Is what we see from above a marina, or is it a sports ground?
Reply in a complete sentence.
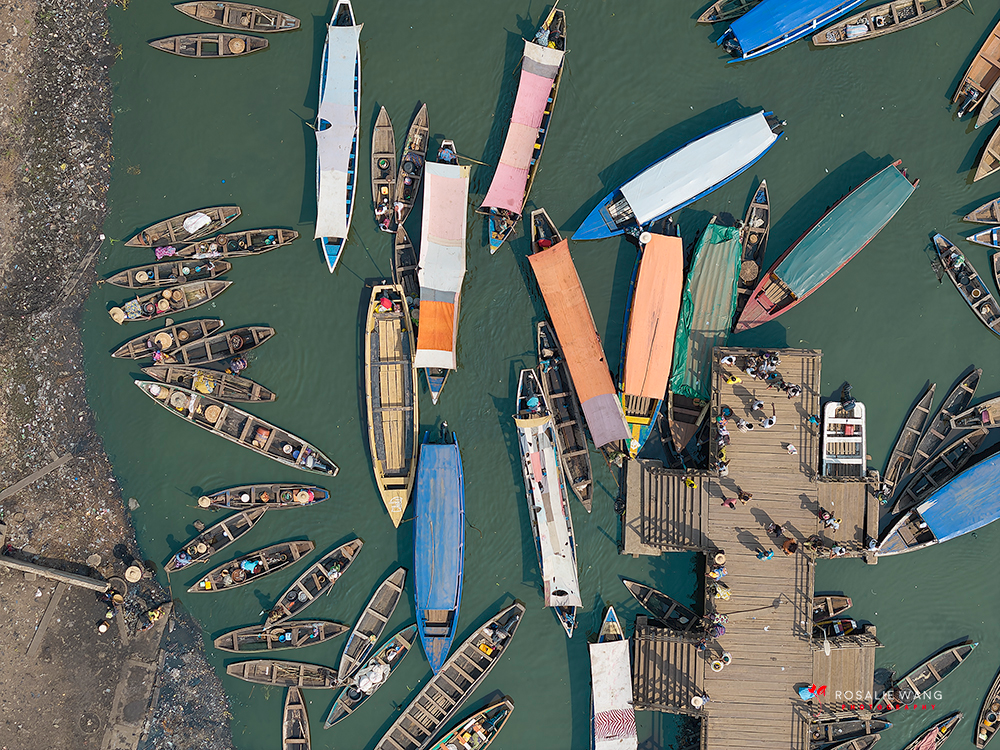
The area seen from above is a marina.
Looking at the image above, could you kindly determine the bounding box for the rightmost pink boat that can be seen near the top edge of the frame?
[479,7,566,255]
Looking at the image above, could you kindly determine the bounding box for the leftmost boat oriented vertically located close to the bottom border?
[279,687,310,750]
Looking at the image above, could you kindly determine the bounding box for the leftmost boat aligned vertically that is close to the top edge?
[315,0,360,272]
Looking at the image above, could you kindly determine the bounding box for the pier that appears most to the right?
[624,348,887,750]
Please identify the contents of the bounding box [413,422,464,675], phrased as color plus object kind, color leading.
blue boat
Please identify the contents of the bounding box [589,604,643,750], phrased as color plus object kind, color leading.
white boat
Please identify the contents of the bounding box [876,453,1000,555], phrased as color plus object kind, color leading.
blue boat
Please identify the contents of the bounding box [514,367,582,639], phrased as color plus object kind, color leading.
white boat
